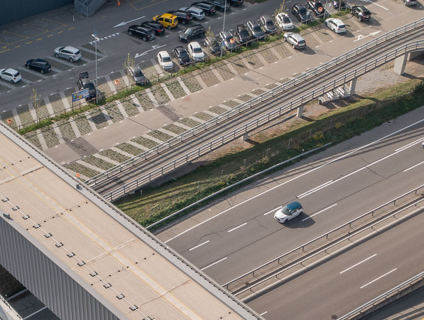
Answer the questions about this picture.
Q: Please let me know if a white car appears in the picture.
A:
Yes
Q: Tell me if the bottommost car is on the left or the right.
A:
right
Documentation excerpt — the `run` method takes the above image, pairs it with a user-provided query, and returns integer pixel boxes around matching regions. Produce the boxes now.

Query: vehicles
[151,13,179,30]
[187,41,204,60]
[174,46,190,63]
[307,0,324,16]
[218,29,236,48]
[77,70,96,97]
[166,8,194,23]
[246,19,265,38]
[178,24,207,42]
[157,50,173,69]
[402,0,418,8]
[53,46,83,63]
[321,19,351,34]
[259,14,277,33]
[346,5,375,21]
[125,64,146,86]
[292,2,311,21]
[180,6,206,21]
[272,204,306,225]
[139,21,167,34]
[275,11,293,30]
[189,1,218,15]
[329,0,347,9]
[235,23,252,42]
[203,34,221,55]
[281,33,309,50]
[127,25,156,41]
[24,61,52,76]
[226,0,245,7]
